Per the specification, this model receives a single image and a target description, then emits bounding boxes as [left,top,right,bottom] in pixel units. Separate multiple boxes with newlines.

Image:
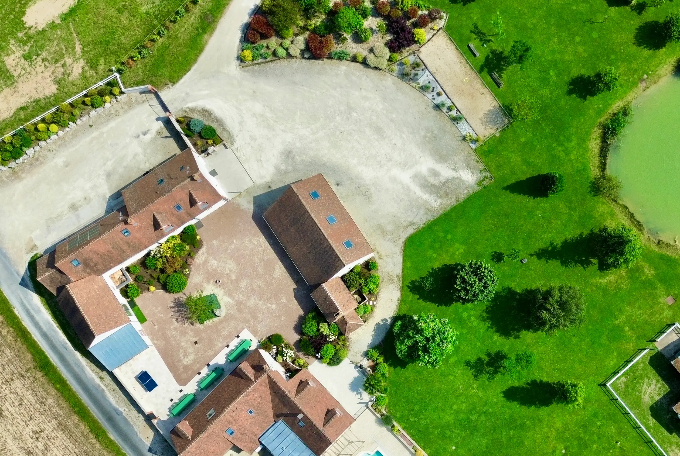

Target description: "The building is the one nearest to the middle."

[260,173,376,286]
